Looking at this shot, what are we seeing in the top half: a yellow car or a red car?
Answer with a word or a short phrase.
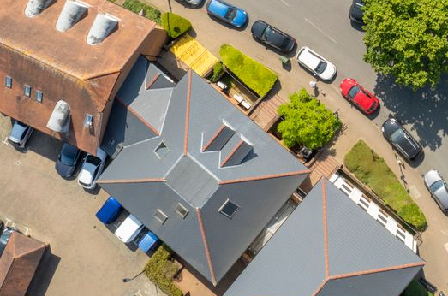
red car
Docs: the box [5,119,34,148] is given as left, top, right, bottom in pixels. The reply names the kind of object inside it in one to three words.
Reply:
car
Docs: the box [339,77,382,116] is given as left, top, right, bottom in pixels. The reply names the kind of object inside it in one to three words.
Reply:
car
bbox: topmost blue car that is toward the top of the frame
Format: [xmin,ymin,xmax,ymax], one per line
[204,0,250,28]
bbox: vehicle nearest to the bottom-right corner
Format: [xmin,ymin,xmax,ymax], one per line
[422,168,448,218]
